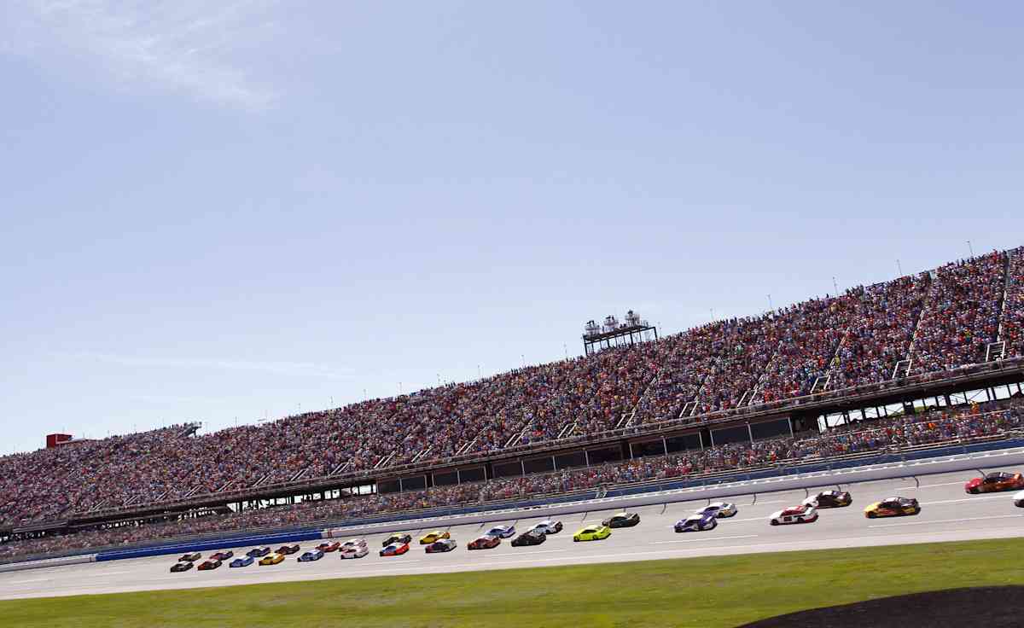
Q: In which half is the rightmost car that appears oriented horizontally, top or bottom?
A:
bottom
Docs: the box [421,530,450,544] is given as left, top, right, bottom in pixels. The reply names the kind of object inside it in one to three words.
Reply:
car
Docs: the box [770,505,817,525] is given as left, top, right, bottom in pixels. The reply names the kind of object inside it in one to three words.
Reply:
car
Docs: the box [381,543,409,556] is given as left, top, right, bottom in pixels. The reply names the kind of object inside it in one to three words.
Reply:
vehicle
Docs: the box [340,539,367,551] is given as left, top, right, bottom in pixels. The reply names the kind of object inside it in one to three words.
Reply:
vehicle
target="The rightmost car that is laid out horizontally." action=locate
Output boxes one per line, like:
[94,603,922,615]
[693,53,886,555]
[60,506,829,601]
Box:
[968,472,1024,493]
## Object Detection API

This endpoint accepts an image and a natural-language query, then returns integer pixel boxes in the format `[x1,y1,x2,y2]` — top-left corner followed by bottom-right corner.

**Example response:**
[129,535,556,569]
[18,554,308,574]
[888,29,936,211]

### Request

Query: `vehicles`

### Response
[199,560,221,570]
[512,532,546,547]
[315,540,341,552]
[968,472,1024,493]
[275,543,300,554]
[340,539,367,551]
[468,535,501,550]
[675,515,717,532]
[381,543,409,556]
[383,533,411,546]
[179,552,200,562]
[230,556,253,567]
[247,546,270,557]
[603,513,640,528]
[210,551,233,561]
[804,489,851,508]
[484,525,517,537]
[298,549,324,561]
[421,530,450,544]
[341,546,369,559]
[171,562,193,572]
[529,519,563,533]
[866,498,919,518]
[574,525,611,541]
[696,501,737,517]
[770,505,817,525]
[259,553,284,565]
[425,539,456,553]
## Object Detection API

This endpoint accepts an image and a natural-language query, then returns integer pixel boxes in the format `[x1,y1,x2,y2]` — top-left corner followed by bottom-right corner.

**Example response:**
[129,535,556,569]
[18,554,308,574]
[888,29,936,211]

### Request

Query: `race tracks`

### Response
[0,464,1024,598]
